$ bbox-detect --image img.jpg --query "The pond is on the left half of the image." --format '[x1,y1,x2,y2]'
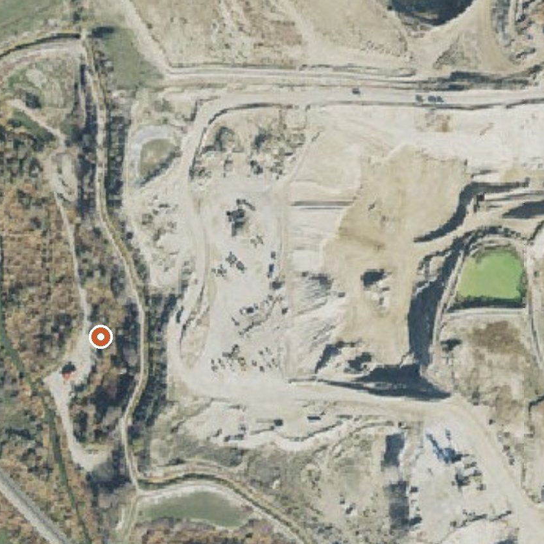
[137,490,249,526]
